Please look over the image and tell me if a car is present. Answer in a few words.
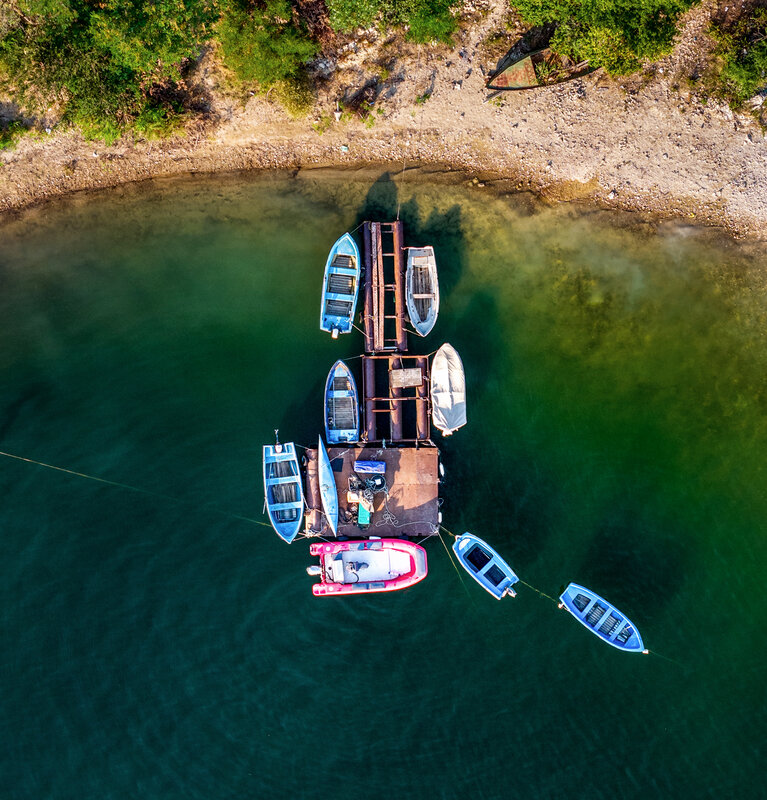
No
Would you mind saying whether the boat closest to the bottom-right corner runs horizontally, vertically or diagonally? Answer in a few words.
diagonally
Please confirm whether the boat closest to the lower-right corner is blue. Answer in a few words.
Yes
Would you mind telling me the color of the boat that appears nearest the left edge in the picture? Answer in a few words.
blue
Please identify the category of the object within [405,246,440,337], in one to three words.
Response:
boat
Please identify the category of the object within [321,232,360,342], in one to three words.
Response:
boat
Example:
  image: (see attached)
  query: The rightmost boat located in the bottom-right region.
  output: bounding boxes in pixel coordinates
[558,582,644,652]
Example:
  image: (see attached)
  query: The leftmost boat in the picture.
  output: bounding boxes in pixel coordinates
[261,430,305,544]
